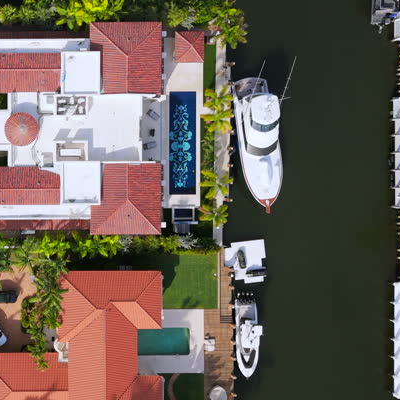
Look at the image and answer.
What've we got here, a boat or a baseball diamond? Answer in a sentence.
The one in the frame is a boat.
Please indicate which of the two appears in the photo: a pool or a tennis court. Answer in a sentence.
Of the two, only a pool appears.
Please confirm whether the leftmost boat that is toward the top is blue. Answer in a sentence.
No, the leftmost boat that is toward the top is white.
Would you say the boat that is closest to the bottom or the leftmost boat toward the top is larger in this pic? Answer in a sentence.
Compared with the boat that is closest to the bottom, the leftmost boat toward the top is the larger one.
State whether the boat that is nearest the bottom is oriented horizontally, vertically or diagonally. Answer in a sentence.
The boat that is nearest the bottom runs vertically in the image.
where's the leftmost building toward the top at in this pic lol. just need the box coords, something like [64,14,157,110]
[0,22,167,235]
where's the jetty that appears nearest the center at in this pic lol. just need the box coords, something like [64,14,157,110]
[228,240,265,284]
